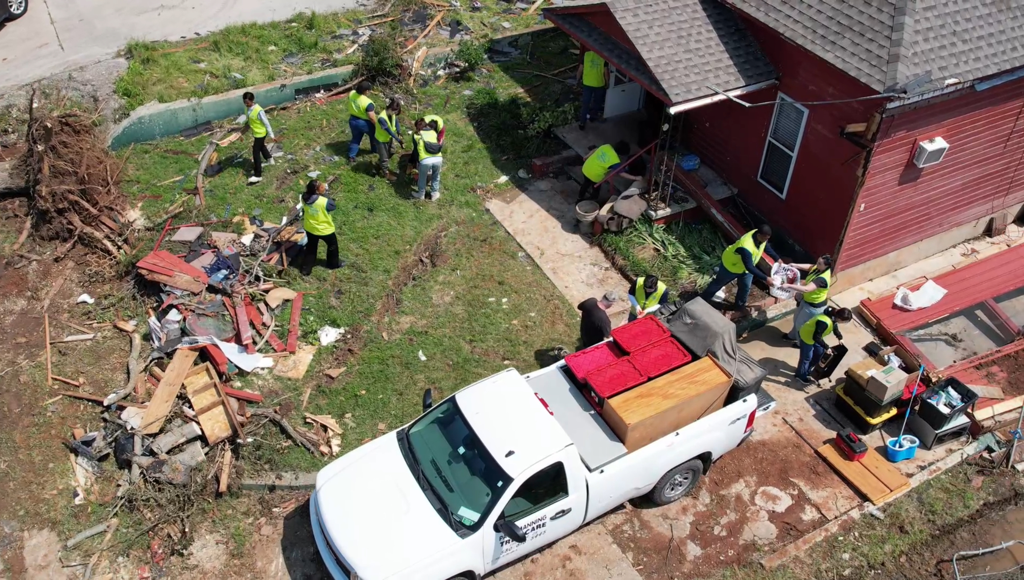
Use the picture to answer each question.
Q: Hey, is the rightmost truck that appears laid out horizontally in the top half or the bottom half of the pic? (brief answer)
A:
bottom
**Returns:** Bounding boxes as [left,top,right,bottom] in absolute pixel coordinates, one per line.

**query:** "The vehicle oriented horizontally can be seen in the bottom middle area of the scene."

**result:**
[305,340,777,580]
